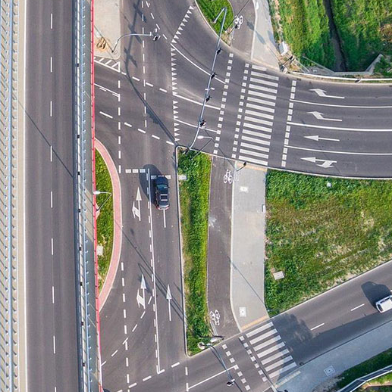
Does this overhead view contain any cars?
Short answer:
Yes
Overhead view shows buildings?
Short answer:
No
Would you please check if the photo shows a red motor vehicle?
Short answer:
No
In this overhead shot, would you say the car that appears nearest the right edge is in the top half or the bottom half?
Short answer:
bottom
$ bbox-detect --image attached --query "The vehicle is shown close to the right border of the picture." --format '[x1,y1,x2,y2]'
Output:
[372,293,392,314]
